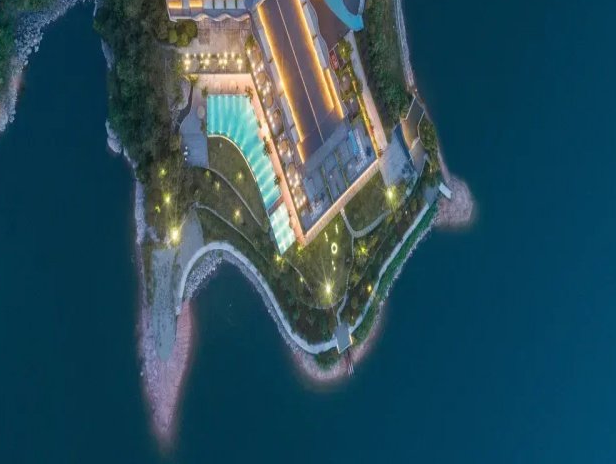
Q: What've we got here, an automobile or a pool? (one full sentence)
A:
The one in the frame is a pool.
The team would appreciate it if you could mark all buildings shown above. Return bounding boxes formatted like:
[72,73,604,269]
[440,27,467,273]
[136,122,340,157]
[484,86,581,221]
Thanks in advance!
[167,0,380,237]
[336,323,352,353]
